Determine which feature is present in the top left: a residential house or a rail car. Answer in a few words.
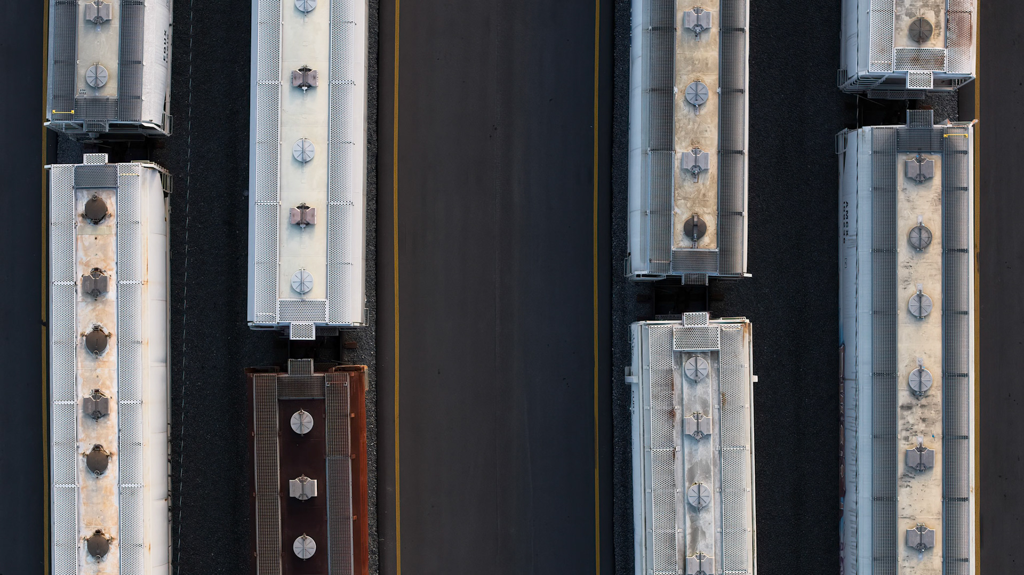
rail car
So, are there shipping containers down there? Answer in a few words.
No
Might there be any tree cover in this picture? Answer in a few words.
No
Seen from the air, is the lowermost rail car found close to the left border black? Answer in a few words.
No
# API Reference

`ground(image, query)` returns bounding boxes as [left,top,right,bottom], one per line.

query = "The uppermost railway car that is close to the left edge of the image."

[42,0,176,156]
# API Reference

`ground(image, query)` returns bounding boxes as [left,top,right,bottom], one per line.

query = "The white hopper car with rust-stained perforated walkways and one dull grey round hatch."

[836,0,976,113]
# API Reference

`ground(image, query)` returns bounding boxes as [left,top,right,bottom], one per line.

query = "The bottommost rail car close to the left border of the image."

[42,146,176,575]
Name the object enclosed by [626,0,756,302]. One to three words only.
rail car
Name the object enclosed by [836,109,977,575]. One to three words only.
rail car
